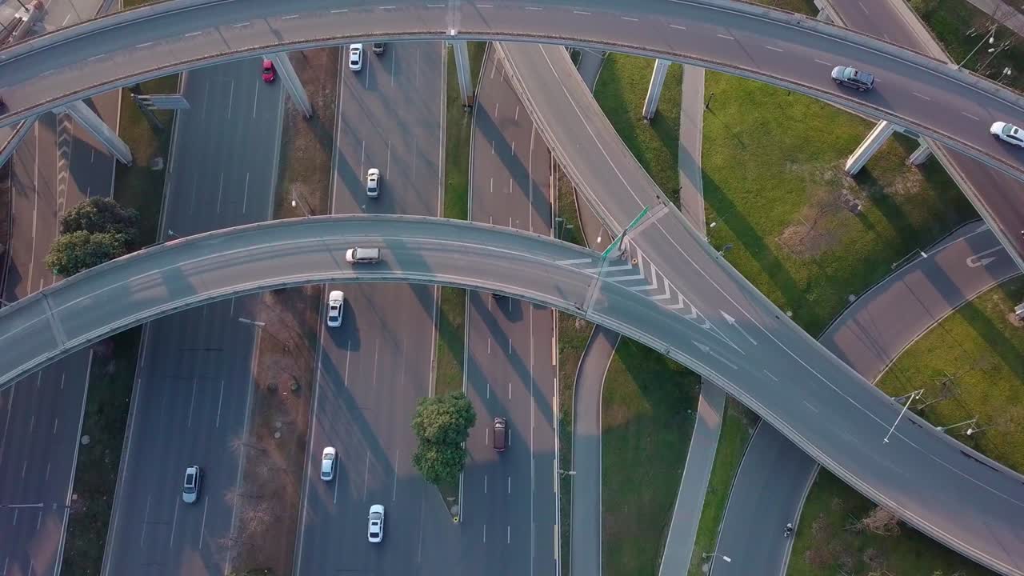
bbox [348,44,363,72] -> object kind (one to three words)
car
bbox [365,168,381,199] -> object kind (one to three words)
car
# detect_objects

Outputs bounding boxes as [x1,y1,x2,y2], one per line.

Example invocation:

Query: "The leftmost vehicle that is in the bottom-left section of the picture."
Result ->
[181,465,203,504]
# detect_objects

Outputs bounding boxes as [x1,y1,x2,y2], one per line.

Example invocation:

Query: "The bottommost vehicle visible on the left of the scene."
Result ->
[367,503,385,543]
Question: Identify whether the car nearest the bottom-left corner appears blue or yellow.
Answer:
blue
